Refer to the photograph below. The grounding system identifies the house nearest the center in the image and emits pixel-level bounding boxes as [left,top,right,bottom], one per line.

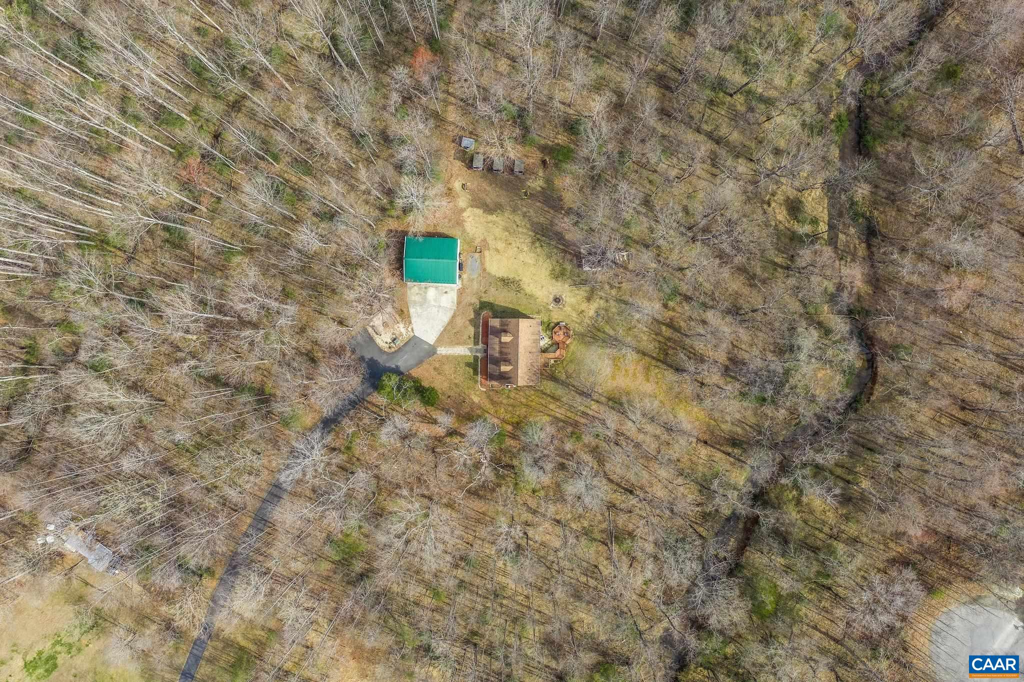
[484,317,542,391]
